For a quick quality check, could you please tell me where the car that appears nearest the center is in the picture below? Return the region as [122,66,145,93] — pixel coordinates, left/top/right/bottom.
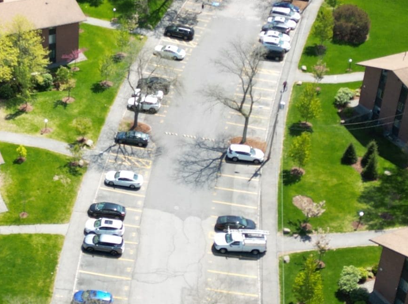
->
[226,143,265,165]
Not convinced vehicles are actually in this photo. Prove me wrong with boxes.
[136,77,171,92]
[259,30,292,43]
[152,46,186,61]
[127,95,163,115]
[113,131,152,148]
[258,49,292,64]
[103,171,145,191]
[260,21,293,35]
[212,226,270,257]
[266,16,298,28]
[70,290,115,304]
[271,5,301,20]
[82,216,127,239]
[212,213,258,235]
[86,201,129,220]
[226,143,265,165]
[81,234,127,258]
[164,25,196,40]
[260,36,293,54]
